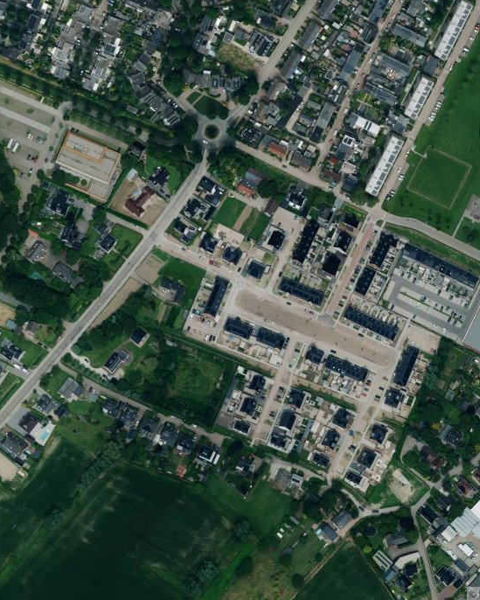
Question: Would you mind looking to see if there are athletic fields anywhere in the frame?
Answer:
Yes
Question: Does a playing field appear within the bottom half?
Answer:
No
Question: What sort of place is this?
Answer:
residential area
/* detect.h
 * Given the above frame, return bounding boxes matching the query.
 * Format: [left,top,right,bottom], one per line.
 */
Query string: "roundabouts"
[196,117,233,154]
